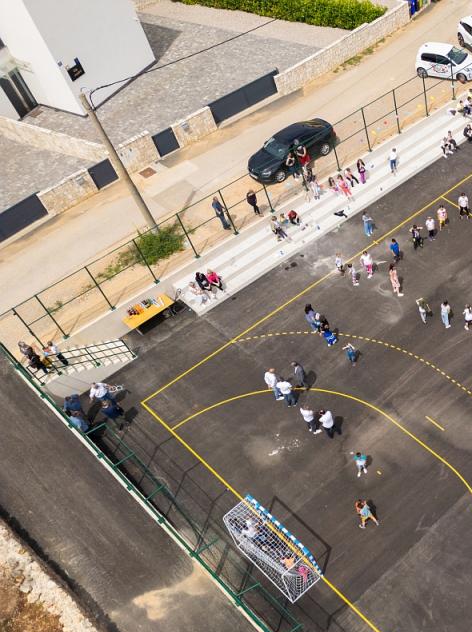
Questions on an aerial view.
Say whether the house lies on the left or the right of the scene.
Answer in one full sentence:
It is on the left.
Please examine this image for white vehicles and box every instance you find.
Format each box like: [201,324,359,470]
[409,40,472,83]
[452,12,472,51]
